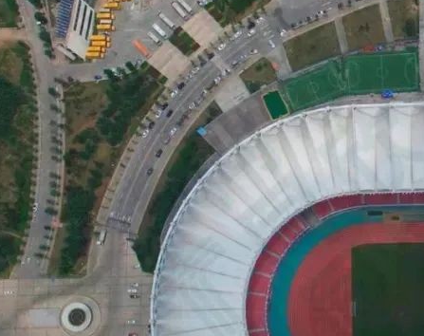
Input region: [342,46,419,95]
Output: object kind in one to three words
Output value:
soccer field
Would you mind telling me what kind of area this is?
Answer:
sports ground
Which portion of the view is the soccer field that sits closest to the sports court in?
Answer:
top right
